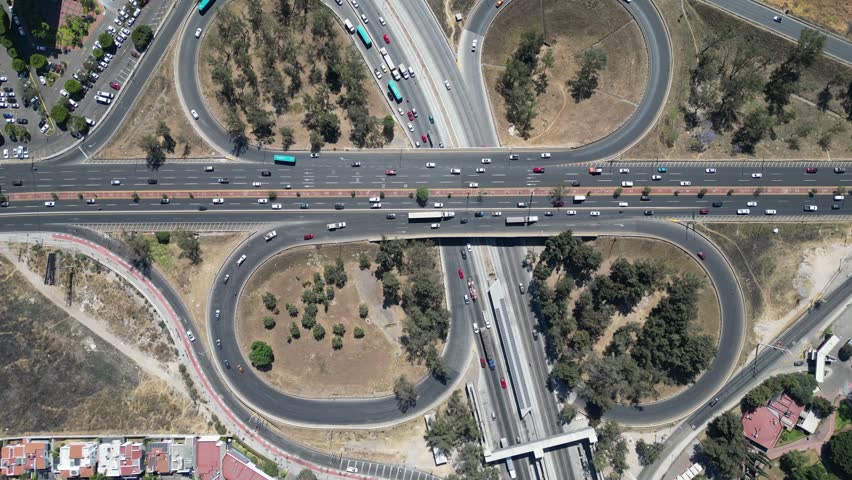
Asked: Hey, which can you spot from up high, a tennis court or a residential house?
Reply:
residential house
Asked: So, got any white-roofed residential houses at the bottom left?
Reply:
Yes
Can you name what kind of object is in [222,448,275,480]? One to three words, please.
shed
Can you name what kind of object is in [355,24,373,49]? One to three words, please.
vehicle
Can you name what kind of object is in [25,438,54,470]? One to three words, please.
house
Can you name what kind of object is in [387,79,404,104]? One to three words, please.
vehicle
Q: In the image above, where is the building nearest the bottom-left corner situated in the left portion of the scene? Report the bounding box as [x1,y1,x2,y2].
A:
[0,440,33,475]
